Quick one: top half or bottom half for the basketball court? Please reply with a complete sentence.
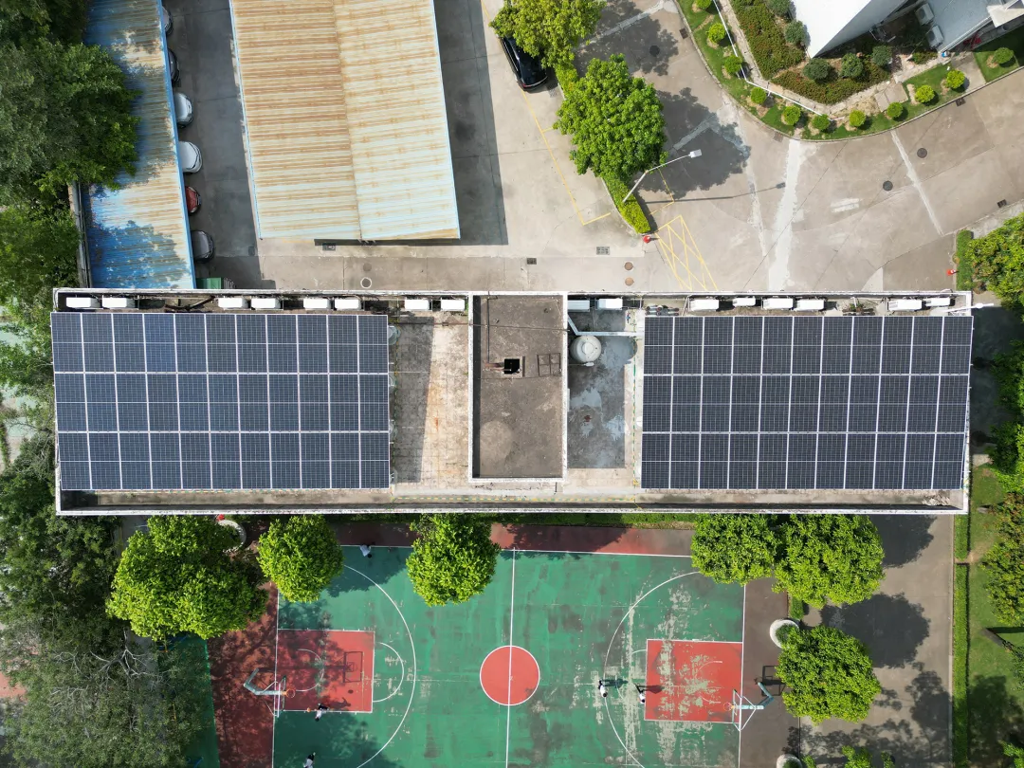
The basketball court is in the bottom half of the image.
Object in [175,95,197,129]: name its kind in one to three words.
car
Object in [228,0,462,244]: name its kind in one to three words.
shed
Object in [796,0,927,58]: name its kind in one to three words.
building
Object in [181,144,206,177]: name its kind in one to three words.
car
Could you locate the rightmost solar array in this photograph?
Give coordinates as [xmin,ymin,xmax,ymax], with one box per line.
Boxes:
[636,316,974,489]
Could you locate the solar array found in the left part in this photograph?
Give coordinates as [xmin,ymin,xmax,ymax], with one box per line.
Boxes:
[50,314,395,489]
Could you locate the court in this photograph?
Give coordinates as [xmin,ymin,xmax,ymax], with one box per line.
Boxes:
[205,514,799,768]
